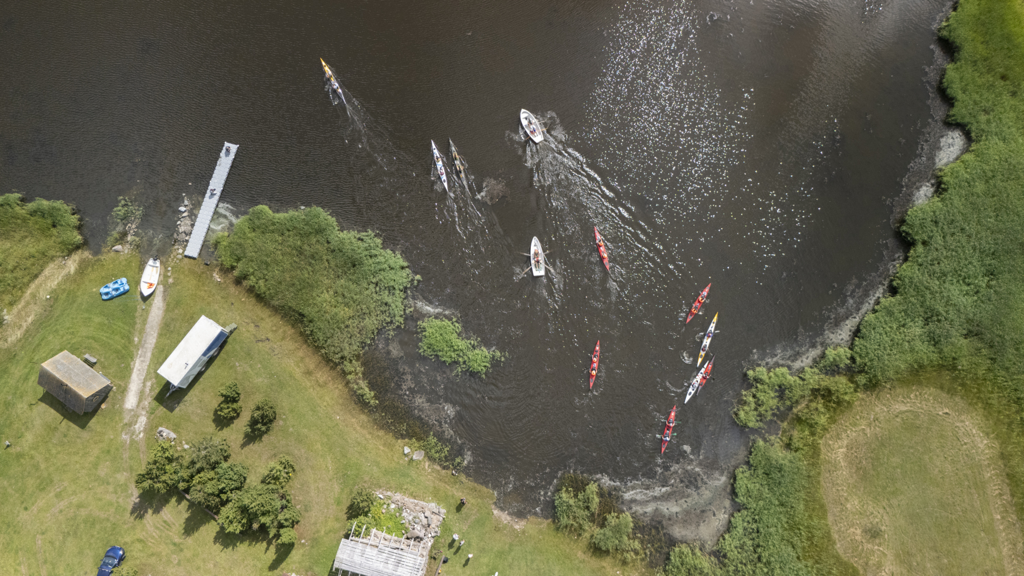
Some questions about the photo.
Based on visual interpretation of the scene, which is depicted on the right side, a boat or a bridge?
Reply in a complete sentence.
There is a boat on the right side.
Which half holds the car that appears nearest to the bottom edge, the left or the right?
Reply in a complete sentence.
You can find the car that appears nearest to the bottom edge on the left side of the picture.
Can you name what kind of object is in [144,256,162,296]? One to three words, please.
boat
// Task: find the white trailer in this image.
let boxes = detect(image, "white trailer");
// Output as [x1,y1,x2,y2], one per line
[158,316,231,396]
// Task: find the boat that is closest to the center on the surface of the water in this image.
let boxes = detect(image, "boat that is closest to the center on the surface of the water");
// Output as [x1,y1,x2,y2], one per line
[530,236,544,277]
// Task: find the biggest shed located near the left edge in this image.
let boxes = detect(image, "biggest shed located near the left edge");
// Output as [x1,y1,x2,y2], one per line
[38,350,112,415]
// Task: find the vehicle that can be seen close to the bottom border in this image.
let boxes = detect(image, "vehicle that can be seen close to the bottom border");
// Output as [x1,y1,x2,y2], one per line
[93,546,124,576]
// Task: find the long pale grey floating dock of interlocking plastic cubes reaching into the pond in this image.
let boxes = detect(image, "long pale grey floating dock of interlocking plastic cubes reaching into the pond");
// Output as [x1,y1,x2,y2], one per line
[185,141,239,260]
